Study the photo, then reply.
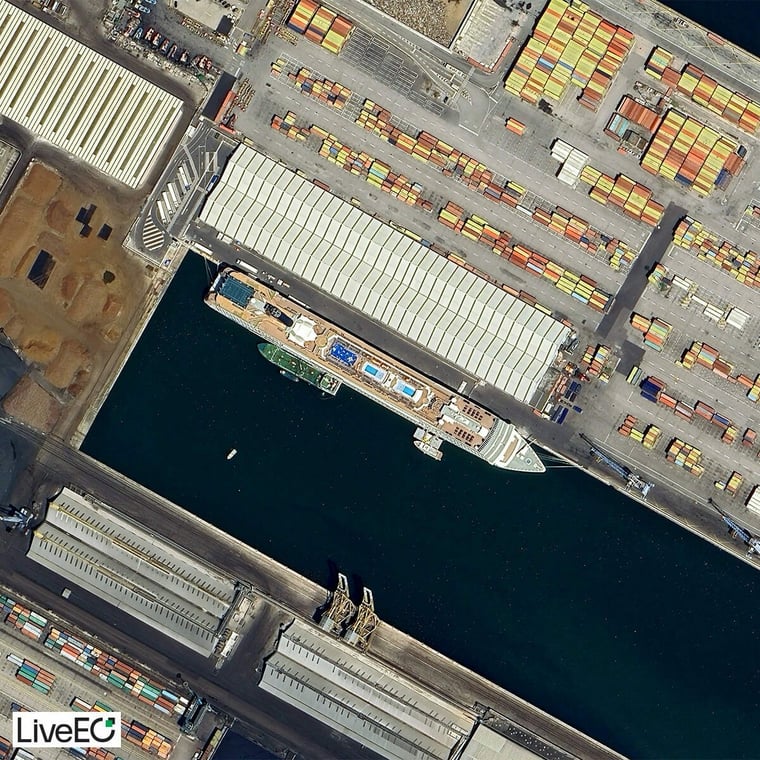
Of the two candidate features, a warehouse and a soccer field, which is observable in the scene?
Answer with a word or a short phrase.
warehouse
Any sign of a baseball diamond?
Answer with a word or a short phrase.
No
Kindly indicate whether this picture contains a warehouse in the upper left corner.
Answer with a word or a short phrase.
Yes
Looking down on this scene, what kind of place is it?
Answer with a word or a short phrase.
port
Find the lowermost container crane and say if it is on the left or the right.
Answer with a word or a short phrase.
left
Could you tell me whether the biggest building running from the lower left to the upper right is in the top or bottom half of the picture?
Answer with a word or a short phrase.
top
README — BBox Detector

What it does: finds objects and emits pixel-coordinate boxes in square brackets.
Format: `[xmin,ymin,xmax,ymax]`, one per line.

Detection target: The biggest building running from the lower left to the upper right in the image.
[201,71,240,122]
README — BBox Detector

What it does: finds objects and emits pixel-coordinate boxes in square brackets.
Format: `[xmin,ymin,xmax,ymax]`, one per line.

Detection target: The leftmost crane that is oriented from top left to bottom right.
[589,448,658,503]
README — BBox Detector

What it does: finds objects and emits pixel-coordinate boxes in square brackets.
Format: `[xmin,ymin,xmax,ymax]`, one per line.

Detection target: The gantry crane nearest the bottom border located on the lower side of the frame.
[170,686,222,736]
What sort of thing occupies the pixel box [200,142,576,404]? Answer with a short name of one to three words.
warehouse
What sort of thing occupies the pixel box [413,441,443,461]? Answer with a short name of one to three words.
boat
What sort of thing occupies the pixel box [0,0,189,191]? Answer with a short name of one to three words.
warehouse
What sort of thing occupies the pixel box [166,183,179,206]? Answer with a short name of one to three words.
vehicle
